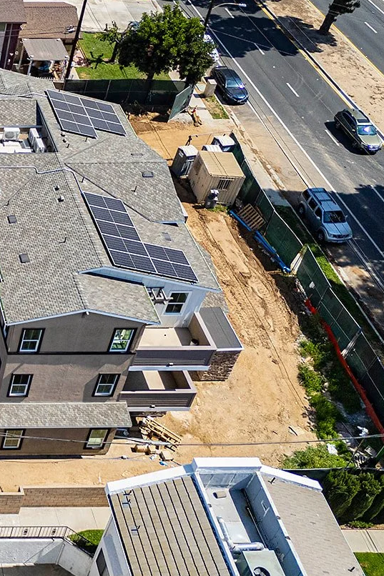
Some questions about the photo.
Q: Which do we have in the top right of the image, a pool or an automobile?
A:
automobile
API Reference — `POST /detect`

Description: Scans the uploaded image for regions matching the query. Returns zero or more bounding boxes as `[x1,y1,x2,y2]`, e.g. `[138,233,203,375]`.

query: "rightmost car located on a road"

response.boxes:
[332,113,380,155]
